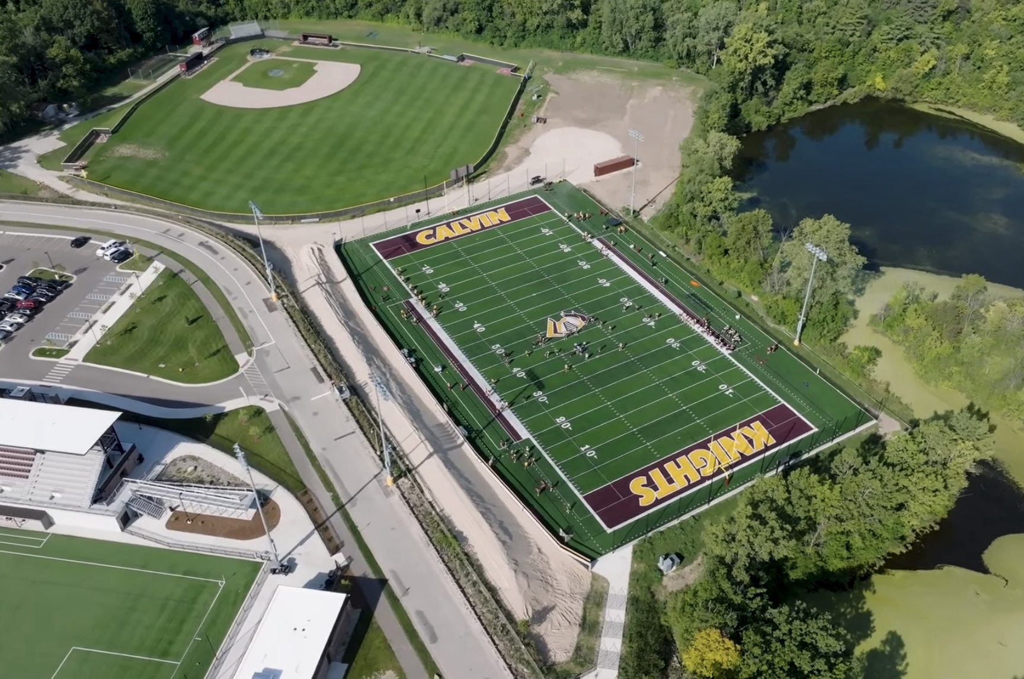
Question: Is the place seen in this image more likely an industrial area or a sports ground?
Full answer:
The picture captures a sports ground.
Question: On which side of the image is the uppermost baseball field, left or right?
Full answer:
The uppermost baseball field appears in the left half of the scene.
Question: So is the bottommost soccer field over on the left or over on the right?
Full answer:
The bottommost soccer field appears in the left half of the scene.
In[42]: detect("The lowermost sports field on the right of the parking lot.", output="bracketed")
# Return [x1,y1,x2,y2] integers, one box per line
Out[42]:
[342,180,877,562]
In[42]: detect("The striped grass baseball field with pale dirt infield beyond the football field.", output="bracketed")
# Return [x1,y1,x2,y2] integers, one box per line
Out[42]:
[77,35,520,214]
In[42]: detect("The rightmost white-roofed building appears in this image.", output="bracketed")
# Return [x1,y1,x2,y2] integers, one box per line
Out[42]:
[234,584,349,679]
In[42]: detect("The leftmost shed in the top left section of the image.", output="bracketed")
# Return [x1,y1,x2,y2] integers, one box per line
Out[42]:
[34,102,61,119]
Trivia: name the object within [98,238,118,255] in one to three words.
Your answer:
vehicle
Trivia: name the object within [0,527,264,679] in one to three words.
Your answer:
soccer field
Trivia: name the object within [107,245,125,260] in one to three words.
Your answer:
car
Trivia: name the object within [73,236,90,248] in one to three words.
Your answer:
vehicle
